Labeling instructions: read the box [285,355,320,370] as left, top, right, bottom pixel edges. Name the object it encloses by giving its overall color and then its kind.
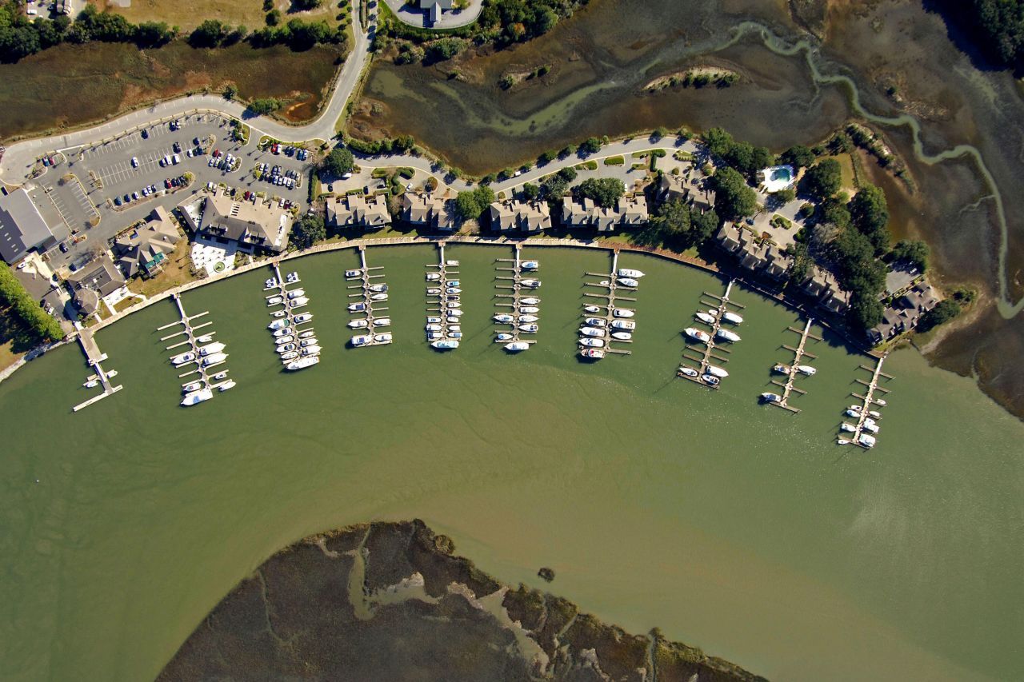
white boat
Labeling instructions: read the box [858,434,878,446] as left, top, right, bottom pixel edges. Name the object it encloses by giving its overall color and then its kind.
white boat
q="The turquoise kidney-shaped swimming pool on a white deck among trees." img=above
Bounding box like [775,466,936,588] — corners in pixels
[764,165,797,192]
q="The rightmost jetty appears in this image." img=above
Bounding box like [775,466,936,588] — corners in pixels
[841,354,893,449]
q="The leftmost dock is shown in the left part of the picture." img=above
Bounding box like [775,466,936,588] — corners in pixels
[73,327,122,412]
